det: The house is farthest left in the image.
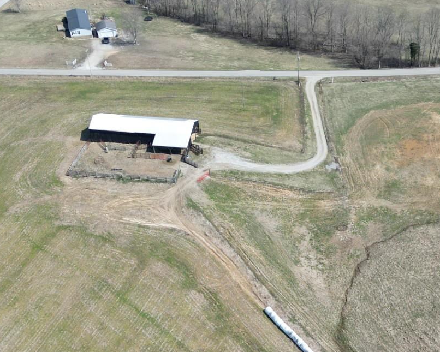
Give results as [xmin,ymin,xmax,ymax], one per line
[65,6,93,41]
